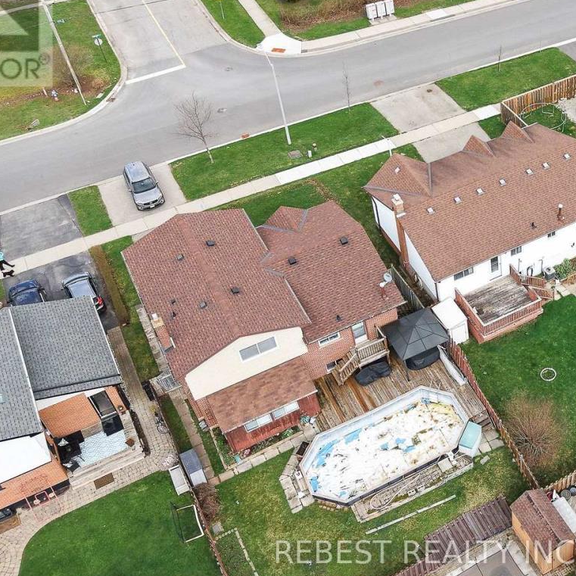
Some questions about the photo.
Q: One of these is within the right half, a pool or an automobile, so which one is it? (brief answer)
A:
pool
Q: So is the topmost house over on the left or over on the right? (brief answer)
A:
right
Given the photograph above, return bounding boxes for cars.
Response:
[116,158,164,213]
[57,261,108,306]
[0,266,52,308]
